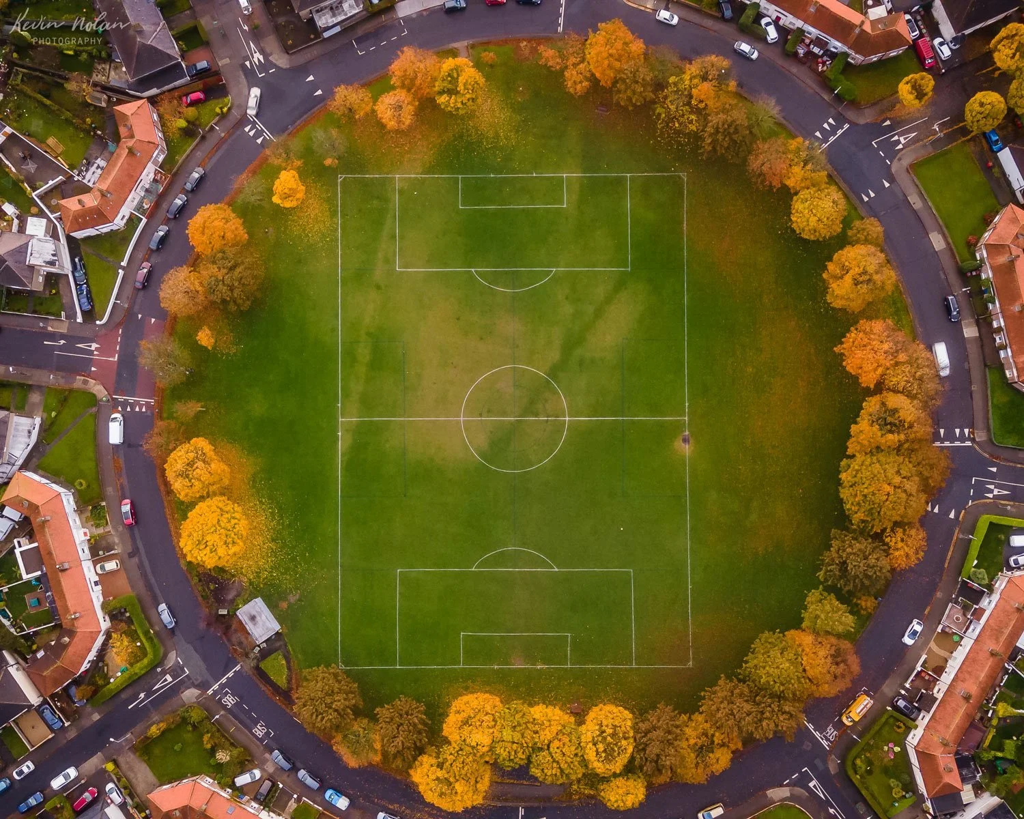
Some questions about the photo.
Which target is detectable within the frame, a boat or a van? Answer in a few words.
van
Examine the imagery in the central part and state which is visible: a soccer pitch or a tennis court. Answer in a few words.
soccer pitch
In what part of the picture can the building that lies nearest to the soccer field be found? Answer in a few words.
bottom left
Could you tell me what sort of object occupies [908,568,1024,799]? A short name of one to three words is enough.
house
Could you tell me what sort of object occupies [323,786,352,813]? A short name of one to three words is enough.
car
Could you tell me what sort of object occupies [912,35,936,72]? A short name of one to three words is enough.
vehicle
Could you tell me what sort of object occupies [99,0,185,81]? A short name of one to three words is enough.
house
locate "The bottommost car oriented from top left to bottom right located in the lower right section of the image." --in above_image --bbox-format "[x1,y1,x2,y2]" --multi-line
[892,695,922,722]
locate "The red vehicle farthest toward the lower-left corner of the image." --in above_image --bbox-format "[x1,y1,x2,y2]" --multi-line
[73,785,100,813]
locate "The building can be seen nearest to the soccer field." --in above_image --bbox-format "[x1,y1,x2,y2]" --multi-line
[236,596,284,644]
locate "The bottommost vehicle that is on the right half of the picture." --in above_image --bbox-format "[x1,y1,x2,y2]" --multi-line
[694,799,726,819]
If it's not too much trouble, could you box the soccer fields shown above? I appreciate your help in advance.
[338,172,692,668]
